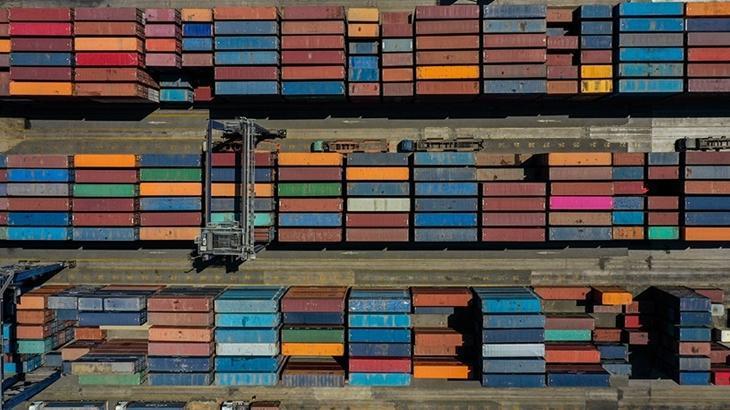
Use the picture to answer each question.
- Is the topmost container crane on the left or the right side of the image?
left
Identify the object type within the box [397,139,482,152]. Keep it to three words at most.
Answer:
vehicle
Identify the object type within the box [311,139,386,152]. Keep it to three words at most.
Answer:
vehicle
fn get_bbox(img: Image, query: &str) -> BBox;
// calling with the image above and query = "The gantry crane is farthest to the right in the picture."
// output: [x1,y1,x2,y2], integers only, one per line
[193,116,292,265]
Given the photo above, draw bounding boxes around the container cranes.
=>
[193,116,292,265]
[0,258,76,410]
